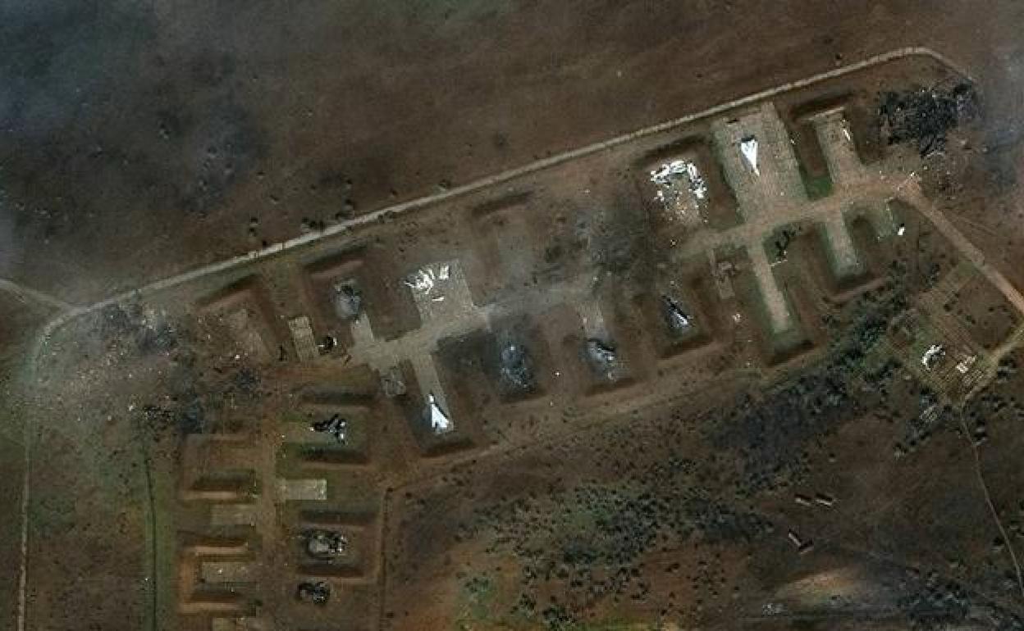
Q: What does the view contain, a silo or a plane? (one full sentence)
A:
This aerial view contains a plane.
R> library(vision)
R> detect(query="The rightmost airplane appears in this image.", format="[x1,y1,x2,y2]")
[740,136,759,175]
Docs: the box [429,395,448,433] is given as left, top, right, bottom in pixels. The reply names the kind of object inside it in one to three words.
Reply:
airplane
